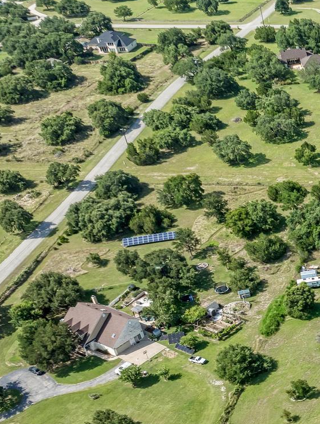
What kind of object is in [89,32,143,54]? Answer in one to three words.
house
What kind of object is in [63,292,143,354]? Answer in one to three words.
house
